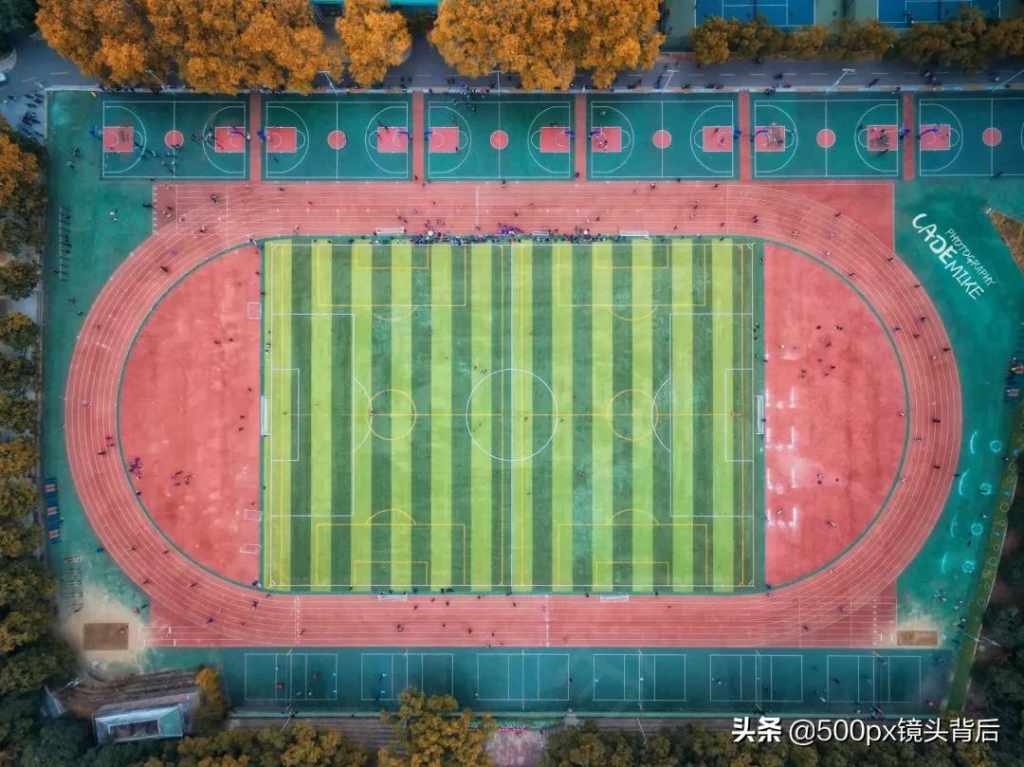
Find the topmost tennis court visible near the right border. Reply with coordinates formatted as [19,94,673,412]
[877,0,1001,30]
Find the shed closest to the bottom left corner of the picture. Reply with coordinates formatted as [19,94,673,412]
[39,679,68,718]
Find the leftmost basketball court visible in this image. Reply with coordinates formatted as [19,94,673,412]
[99,92,250,180]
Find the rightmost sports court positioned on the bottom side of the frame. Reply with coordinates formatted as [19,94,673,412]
[827,656,921,702]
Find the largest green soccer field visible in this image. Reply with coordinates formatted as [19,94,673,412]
[264,239,760,591]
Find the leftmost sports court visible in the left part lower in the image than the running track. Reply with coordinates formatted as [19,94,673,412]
[245,654,336,700]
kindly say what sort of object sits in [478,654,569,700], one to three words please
sports court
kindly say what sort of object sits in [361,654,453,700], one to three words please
sports court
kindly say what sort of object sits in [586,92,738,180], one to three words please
basketball court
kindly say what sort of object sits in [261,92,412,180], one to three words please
basketball court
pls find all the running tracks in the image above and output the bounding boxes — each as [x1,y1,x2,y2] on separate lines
[63,181,963,648]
